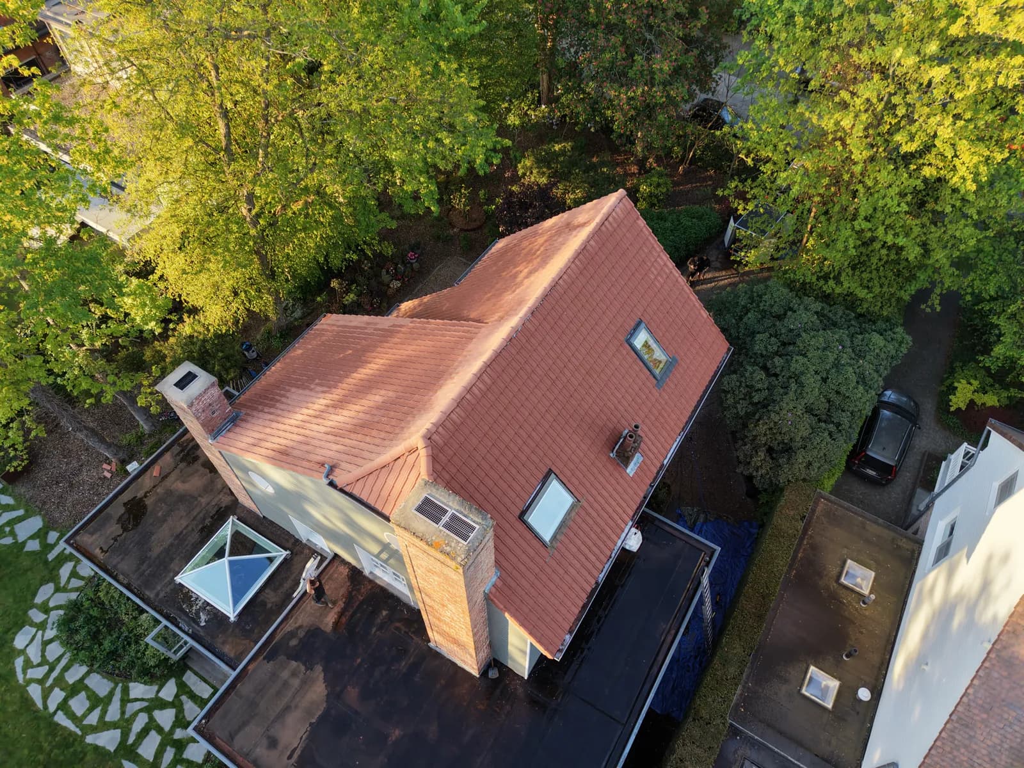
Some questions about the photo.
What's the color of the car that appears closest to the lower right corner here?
black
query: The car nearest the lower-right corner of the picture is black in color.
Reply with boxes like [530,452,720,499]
[838,377,919,481]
